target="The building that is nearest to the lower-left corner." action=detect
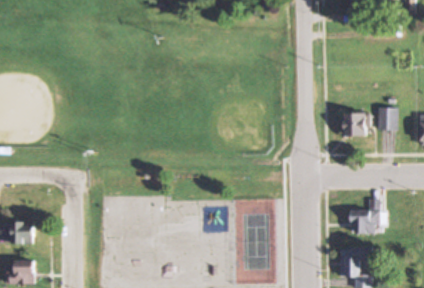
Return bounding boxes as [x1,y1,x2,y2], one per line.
[0,261,37,286]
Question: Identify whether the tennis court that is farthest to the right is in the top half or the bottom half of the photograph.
bottom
